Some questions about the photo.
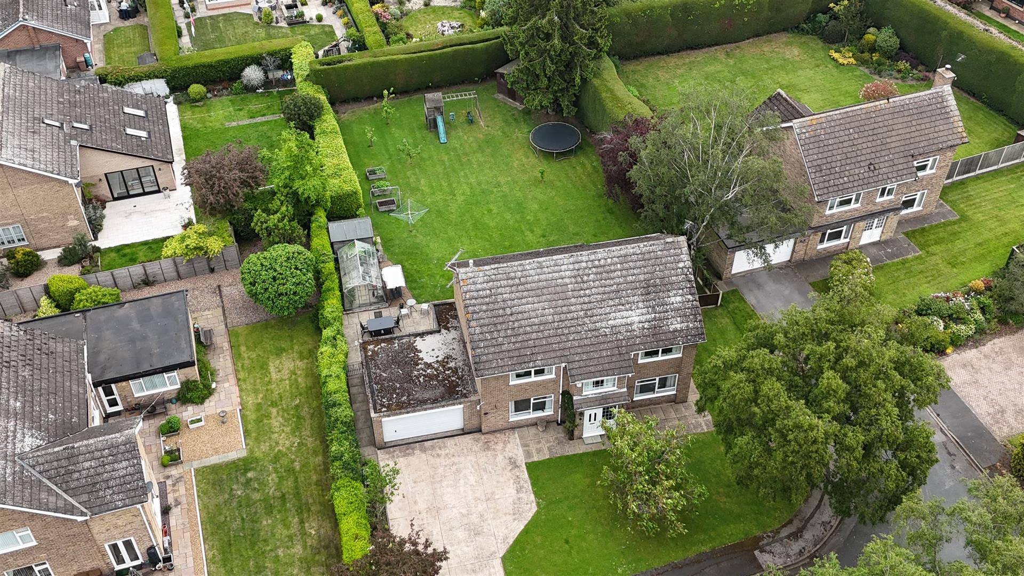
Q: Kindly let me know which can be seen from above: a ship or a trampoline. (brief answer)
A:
trampoline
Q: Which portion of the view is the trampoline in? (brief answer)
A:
top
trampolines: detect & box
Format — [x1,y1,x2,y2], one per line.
[529,122,582,164]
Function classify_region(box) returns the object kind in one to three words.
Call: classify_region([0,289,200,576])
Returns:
house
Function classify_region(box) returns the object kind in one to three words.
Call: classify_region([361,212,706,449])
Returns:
house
